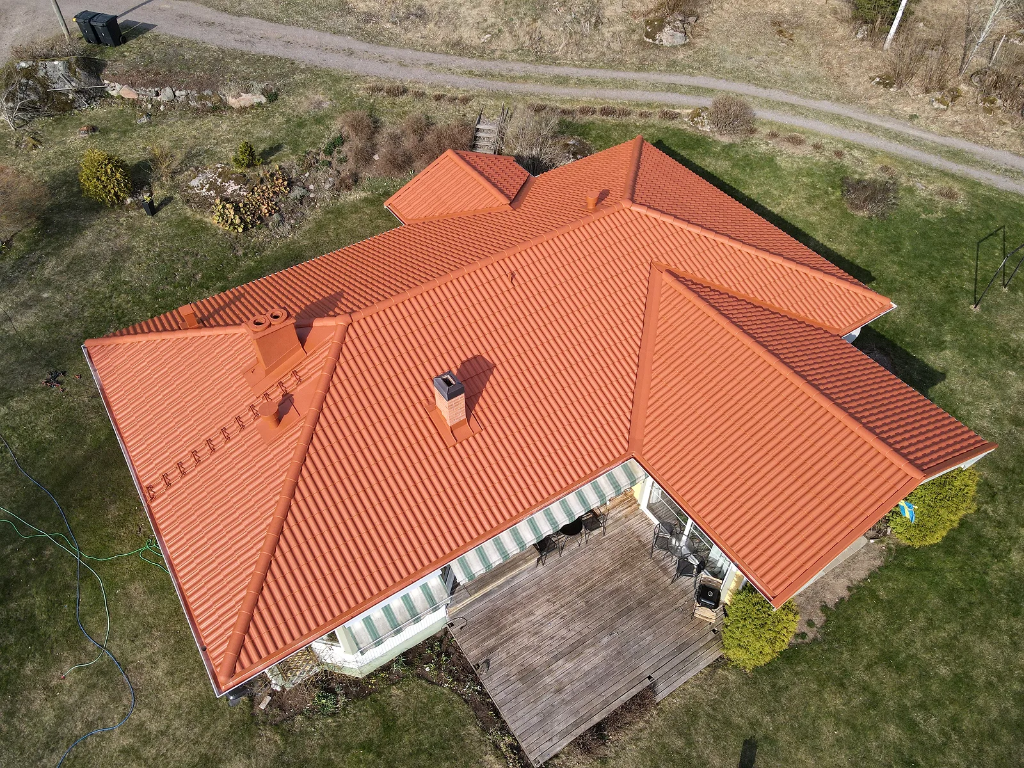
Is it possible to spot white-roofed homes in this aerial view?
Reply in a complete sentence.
No, the frame has no white-roofed home in it.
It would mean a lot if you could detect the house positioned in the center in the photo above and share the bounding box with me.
[81,134,999,697]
